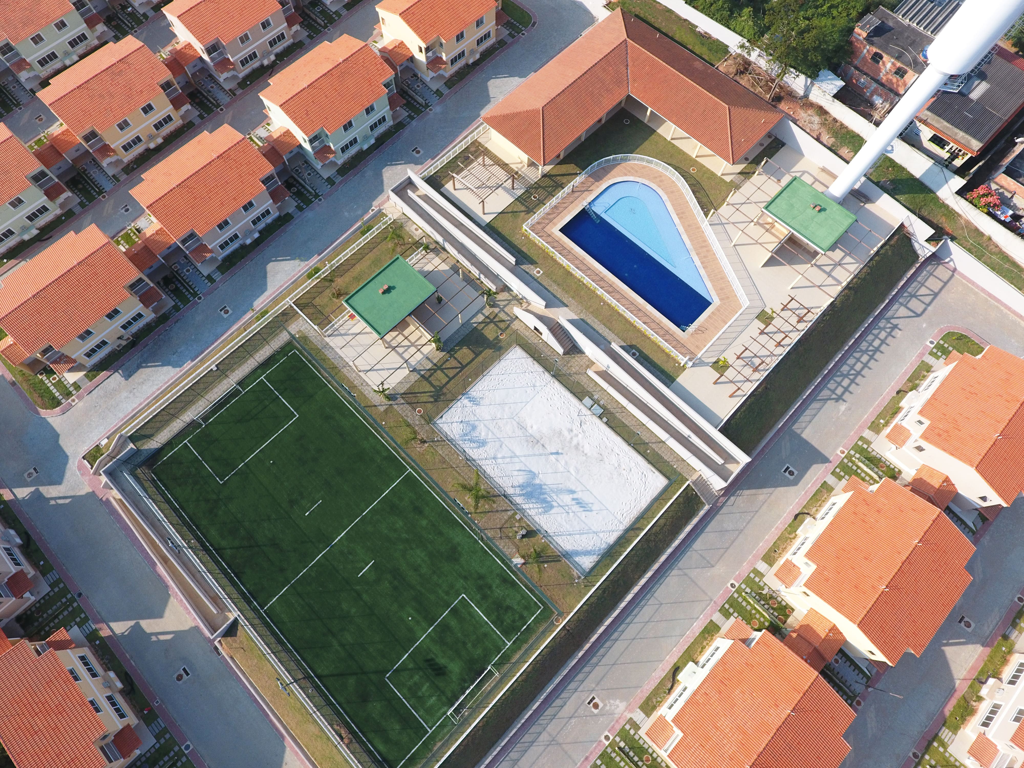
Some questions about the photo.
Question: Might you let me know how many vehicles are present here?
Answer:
0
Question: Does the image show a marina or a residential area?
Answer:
residential area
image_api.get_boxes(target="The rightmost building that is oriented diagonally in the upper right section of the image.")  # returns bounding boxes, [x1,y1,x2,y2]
[902,45,1024,172]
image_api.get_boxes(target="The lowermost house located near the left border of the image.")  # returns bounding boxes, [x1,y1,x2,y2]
[0,621,165,768]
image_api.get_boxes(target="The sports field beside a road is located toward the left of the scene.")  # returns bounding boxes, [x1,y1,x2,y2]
[135,340,557,768]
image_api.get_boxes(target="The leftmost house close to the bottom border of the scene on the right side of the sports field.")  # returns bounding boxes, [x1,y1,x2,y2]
[633,608,860,768]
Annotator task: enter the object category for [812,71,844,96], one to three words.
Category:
shed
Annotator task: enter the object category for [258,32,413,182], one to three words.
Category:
house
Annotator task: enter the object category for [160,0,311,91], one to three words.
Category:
house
